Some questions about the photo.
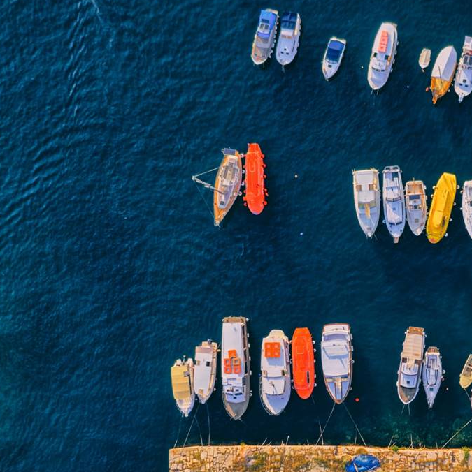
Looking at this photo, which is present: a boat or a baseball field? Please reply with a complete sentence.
Visible in the photo is a boat.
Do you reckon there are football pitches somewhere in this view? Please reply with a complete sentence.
No, no football pitch can be seen from above.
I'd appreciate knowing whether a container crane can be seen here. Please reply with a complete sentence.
No, the scene contains no container crane.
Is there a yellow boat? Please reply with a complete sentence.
Yes, the picture does show a yellow boat.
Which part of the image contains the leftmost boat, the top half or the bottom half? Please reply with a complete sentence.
The bottom half of the photo is where the leftmost boat is.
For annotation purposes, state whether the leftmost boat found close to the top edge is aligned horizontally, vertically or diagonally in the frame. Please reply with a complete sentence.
I'd say the leftmost boat found close to the top edge is aligned vertically in the picture.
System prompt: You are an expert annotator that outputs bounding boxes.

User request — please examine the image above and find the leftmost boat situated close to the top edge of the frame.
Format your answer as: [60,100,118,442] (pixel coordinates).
[251,7,278,69]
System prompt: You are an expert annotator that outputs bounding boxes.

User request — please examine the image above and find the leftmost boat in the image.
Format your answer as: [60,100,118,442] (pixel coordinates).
[171,356,197,425]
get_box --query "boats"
[418,48,432,68]
[366,22,399,96]
[251,7,278,69]
[196,339,218,415]
[404,180,428,237]
[381,167,406,245]
[275,8,303,69]
[422,344,443,409]
[260,326,292,417]
[460,180,472,238]
[396,326,428,419]
[352,170,383,240]
[323,36,346,81]
[190,148,242,229]
[426,172,460,244]
[243,143,268,215]
[171,356,197,425]
[454,32,472,102]
[218,317,252,422]
[460,354,472,388]
[321,324,355,405]
[426,46,457,110]
[290,328,317,399]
